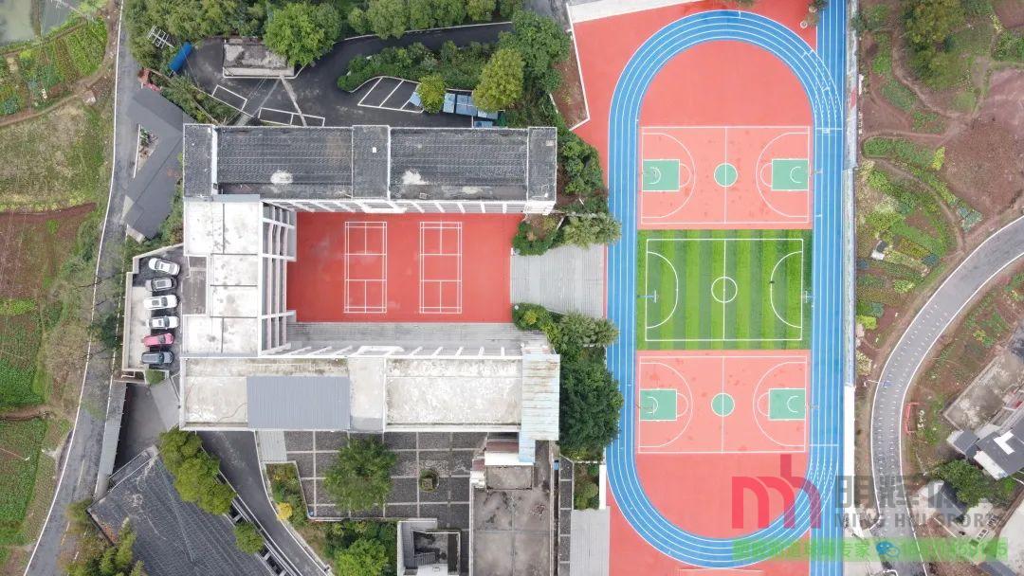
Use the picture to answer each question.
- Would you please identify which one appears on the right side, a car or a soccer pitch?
soccer pitch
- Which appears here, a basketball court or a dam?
basketball court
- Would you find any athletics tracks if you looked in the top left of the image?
No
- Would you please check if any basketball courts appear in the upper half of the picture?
Yes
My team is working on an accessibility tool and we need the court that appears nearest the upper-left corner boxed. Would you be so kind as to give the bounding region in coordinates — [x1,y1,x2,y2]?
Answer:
[345,222,387,313]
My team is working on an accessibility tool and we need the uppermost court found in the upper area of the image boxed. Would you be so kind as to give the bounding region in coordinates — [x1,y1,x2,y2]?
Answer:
[637,125,813,230]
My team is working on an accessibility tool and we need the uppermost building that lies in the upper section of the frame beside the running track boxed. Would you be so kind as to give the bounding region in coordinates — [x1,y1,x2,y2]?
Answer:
[183,124,556,215]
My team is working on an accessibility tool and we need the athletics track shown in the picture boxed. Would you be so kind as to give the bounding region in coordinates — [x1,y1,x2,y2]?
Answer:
[605,10,843,569]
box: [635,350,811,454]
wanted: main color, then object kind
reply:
pink basketball court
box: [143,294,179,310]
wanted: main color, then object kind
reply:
white car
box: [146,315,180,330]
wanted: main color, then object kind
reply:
white car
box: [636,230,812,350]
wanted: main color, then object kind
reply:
green soccer field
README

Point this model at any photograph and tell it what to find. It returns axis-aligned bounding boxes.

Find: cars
[148,258,182,276]
[142,332,175,348]
[143,294,179,310]
[146,277,178,292]
[141,350,175,366]
[146,315,180,330]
